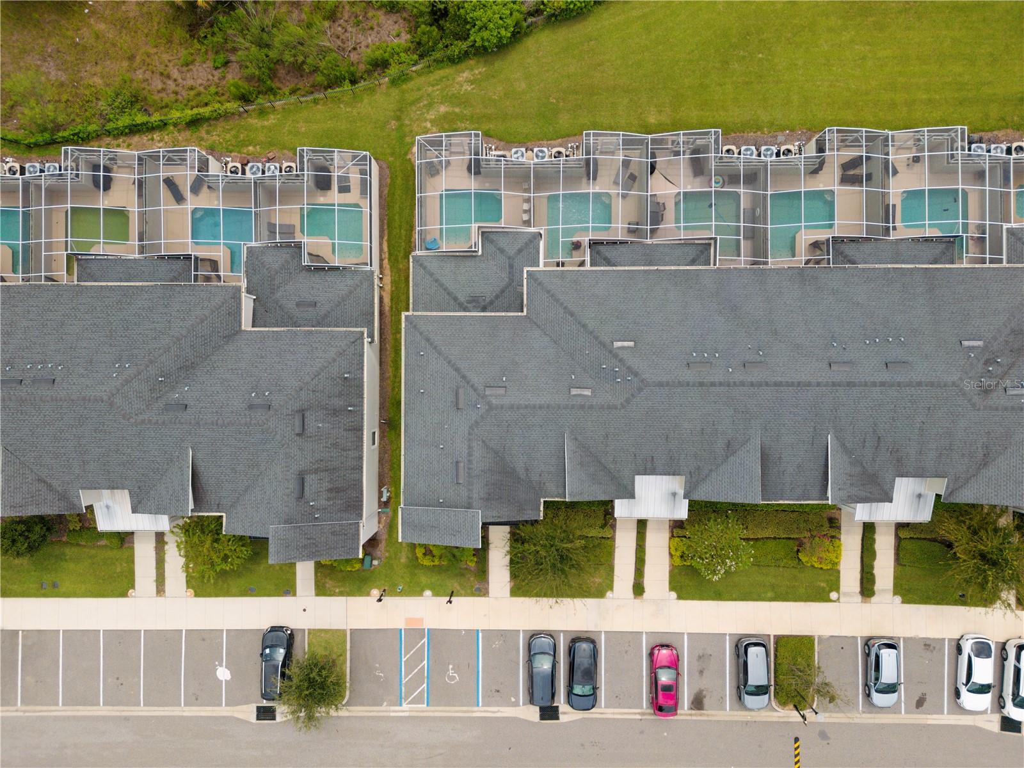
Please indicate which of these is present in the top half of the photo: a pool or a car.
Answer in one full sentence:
The feature located in the top half of the photo is a pool.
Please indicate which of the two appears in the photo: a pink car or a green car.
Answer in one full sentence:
This aerial view contains a pink car.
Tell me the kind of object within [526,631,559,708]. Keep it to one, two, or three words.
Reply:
car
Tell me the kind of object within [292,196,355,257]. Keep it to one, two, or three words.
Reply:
swimming pool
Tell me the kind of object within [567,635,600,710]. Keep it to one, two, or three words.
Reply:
car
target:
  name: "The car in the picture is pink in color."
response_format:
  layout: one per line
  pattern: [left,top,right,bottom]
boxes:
[649,642,682,719]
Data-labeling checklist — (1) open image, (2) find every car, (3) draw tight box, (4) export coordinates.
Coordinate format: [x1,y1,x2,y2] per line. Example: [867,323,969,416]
[995,637,1024,721]
[257,625,295,703]
[526,631,559,708]
[734,636,769,710]
[863,636,900,707]
[649,642,682,719]
[567,635,600,710]
[953,632,994,711]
